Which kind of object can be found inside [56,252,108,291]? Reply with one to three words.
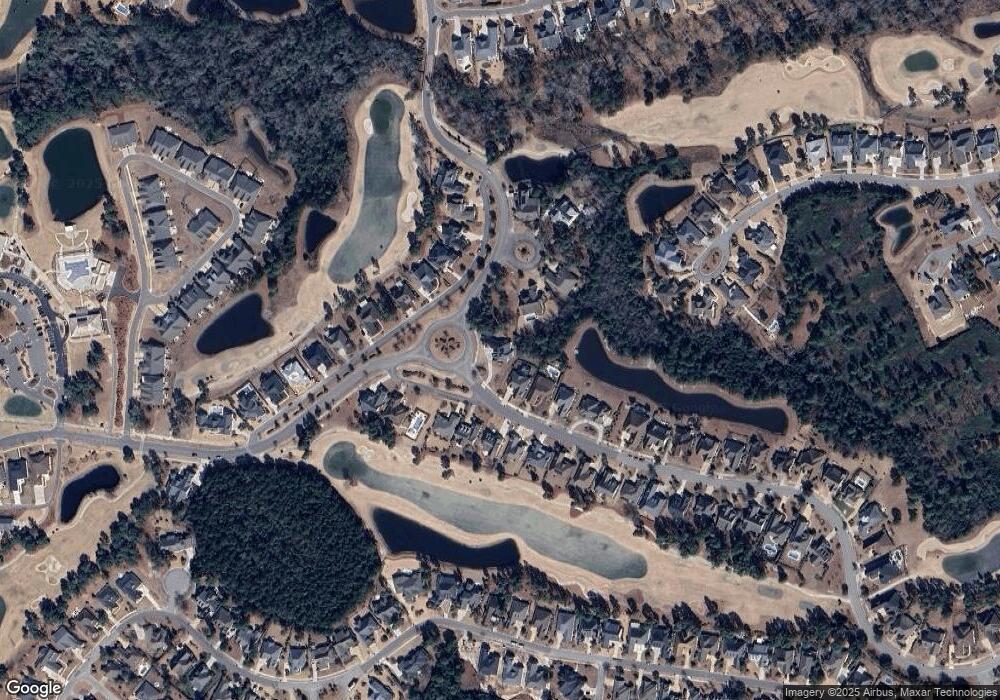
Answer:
swimming pool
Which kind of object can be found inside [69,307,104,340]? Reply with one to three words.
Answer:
building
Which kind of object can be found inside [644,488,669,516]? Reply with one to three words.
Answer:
house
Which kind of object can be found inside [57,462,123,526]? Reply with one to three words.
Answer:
pond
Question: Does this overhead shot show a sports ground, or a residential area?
residential area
